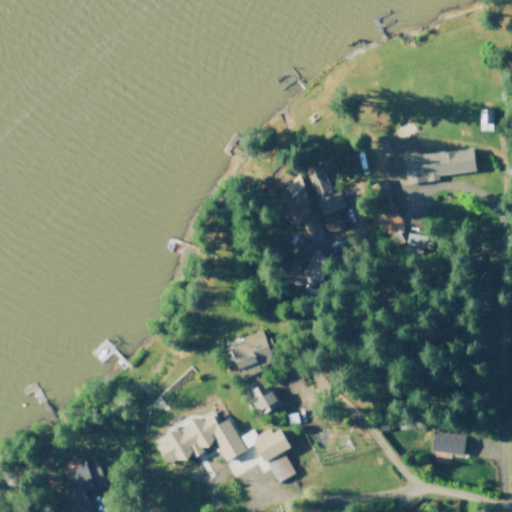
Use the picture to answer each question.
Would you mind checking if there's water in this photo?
Yes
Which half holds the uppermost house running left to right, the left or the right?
right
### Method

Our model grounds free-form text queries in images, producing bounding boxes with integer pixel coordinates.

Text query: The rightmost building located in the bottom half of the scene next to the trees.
[432,432,467,460]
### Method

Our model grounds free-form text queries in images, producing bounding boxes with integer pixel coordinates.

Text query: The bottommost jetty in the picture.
[24,381,61,424]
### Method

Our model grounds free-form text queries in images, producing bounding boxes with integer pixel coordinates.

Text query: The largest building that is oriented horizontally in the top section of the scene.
[406,146,479,183]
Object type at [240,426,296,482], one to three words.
house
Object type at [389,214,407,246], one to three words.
house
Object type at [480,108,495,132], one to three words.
shed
